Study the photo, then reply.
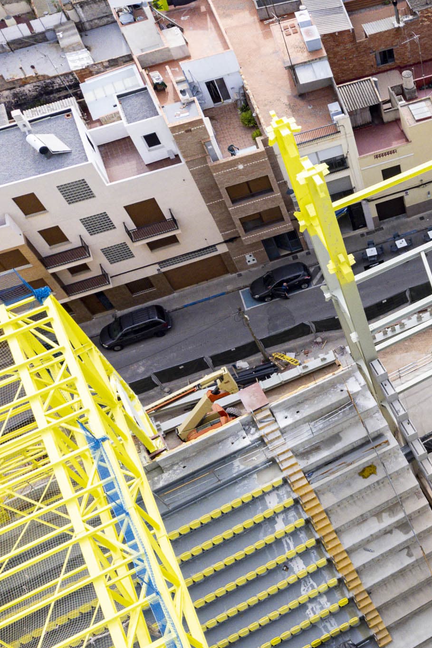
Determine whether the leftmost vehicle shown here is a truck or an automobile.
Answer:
automobile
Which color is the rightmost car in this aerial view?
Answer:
black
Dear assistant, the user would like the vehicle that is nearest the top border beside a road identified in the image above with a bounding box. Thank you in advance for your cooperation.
[245,258,317,304]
